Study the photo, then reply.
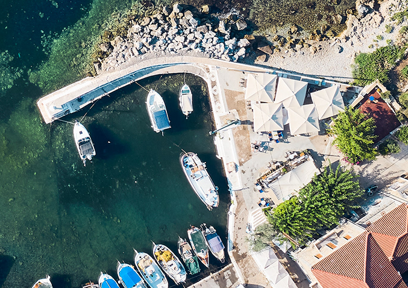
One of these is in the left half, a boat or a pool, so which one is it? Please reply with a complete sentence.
The feature located in the left half is a boat.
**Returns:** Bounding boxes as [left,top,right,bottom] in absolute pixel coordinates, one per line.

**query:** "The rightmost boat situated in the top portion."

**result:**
[177,86,193,117]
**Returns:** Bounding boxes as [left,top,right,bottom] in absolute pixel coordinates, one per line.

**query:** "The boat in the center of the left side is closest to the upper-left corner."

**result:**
[58,113,94,163]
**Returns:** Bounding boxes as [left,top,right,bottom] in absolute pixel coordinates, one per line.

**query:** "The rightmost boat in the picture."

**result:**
[205,225,227,267]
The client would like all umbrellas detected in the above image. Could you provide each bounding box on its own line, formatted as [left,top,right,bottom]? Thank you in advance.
[306,82,344,120]
[242,71,275,103]
[286,103,319,136]
[250,102,281,132]
[272,73,307,106]
[249,242,280,269]
[268,271,296,288]
[258,260,286,286]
